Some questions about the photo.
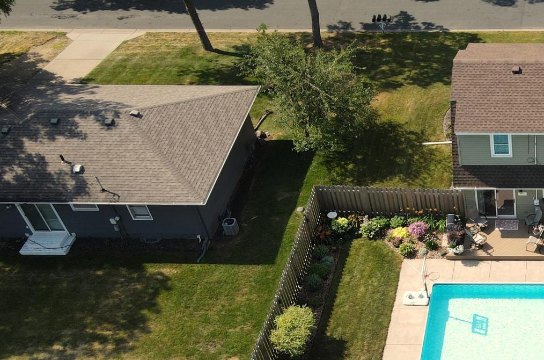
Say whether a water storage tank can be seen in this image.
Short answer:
No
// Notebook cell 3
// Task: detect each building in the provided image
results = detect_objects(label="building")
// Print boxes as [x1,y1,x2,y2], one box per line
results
[0,84,266,261]
[422,43,544,219]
